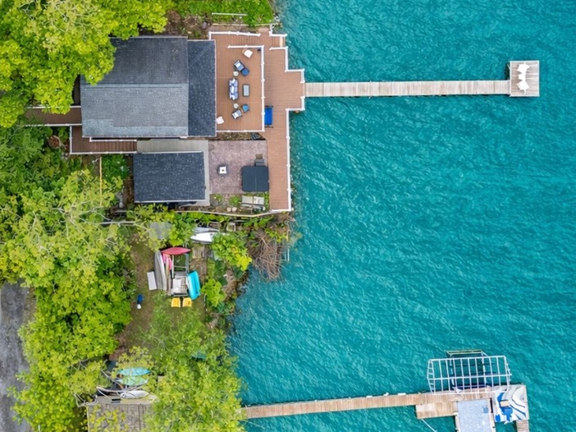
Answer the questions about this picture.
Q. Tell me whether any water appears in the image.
Yes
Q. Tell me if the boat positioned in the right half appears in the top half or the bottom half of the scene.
bottom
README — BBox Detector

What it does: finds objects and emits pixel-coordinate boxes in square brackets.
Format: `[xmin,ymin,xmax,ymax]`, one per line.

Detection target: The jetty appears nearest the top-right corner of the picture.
[508,60,540,96]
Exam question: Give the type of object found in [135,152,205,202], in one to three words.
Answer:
shed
